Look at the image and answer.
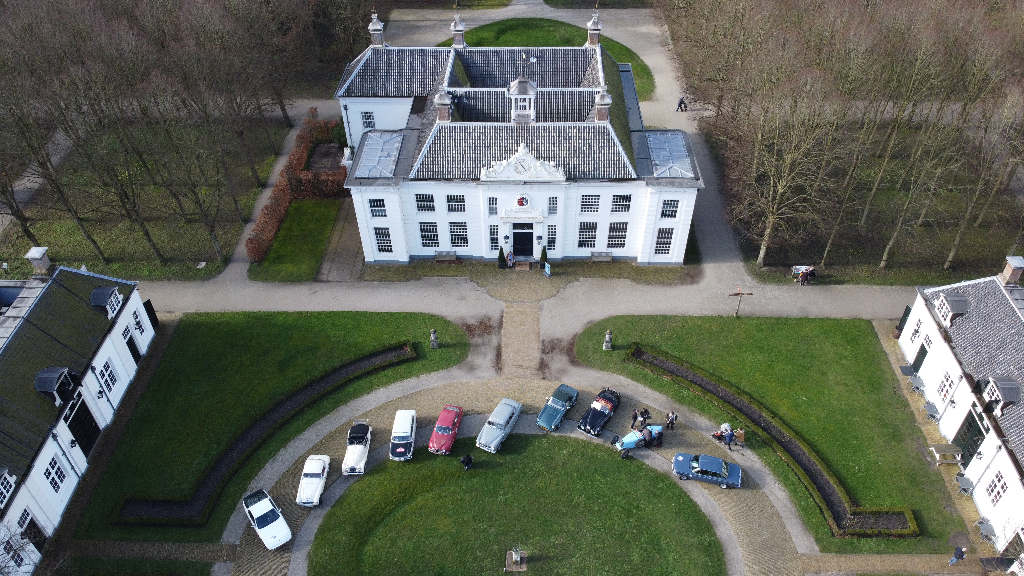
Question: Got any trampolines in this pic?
No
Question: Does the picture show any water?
No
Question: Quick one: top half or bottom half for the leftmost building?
bottom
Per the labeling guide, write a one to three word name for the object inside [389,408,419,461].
car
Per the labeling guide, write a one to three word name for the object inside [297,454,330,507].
car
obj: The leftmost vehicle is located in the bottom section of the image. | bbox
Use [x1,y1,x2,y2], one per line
[242,489,291,552]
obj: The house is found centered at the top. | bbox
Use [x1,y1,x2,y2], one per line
[334,5,704,266]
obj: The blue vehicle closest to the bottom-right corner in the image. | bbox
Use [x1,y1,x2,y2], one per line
[670,454,741,489]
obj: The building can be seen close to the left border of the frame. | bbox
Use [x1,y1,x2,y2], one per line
[0,247,158,576]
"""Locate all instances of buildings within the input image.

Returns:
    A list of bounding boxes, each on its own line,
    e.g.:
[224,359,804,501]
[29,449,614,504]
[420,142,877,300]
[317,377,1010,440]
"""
[334,5,704,266]
[0,247,158,576]
[895,252,1024,576]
